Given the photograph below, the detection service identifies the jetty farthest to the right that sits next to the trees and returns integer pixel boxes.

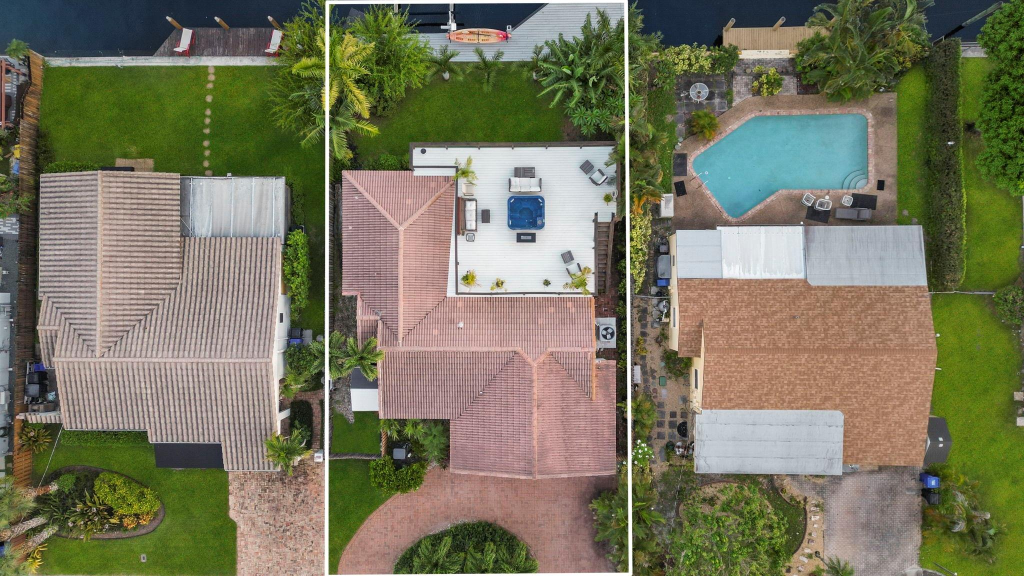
[723,27,803,49]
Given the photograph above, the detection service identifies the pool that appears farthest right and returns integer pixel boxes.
[686,108,874,224]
